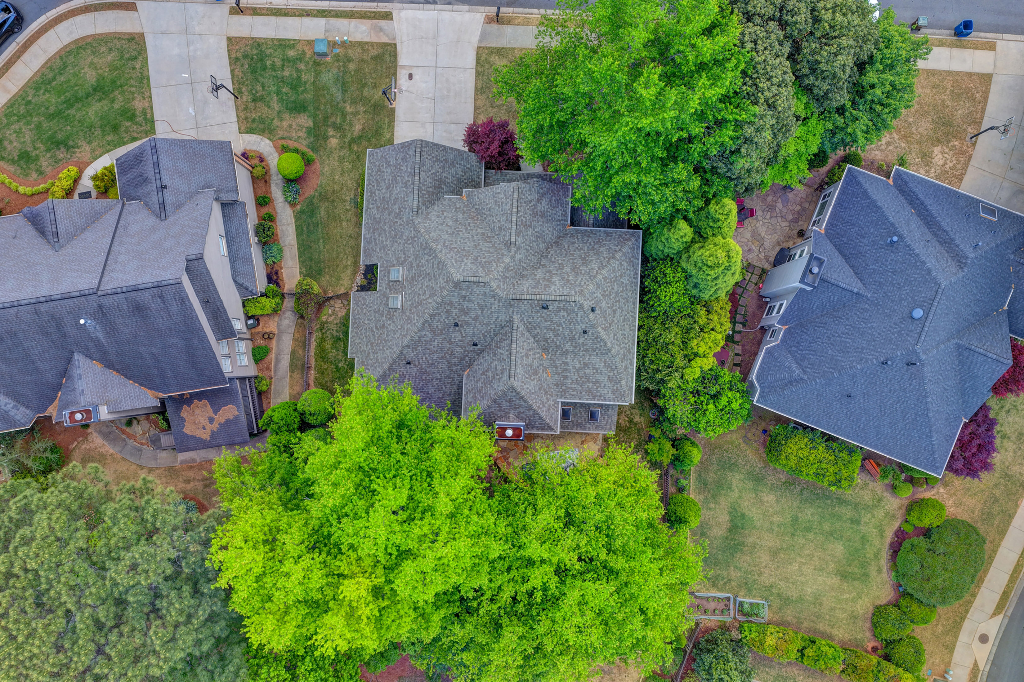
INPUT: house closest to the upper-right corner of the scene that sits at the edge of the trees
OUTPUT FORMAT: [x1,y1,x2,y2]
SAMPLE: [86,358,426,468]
[742,163,1024,479]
